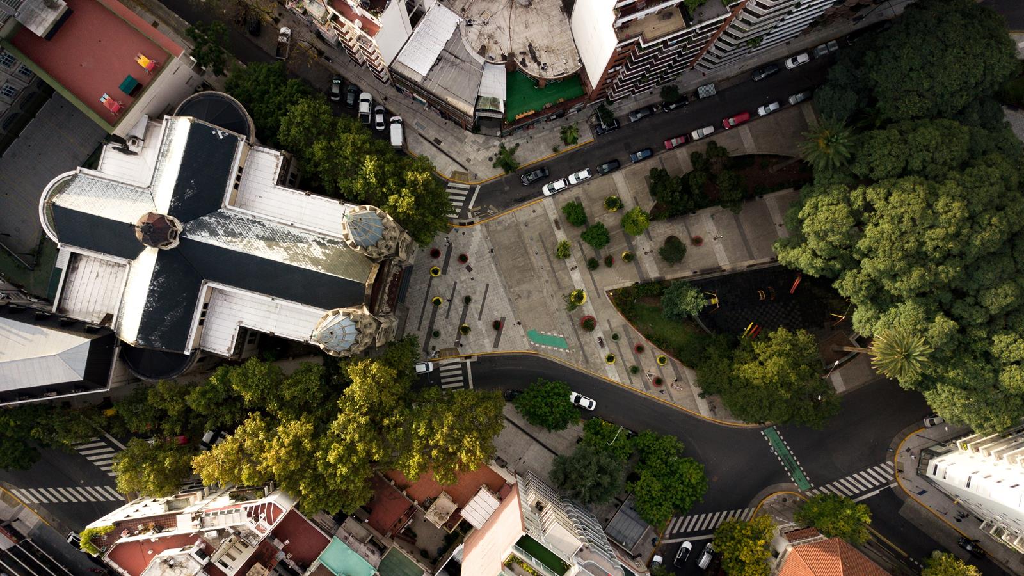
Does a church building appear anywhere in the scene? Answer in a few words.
Yes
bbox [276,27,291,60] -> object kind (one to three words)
vehicle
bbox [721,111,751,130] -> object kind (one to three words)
car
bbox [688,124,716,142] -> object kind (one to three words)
car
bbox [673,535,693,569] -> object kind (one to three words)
vehicle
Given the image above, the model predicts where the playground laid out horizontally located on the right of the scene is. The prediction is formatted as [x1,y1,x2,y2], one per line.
[692,264,889,350]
